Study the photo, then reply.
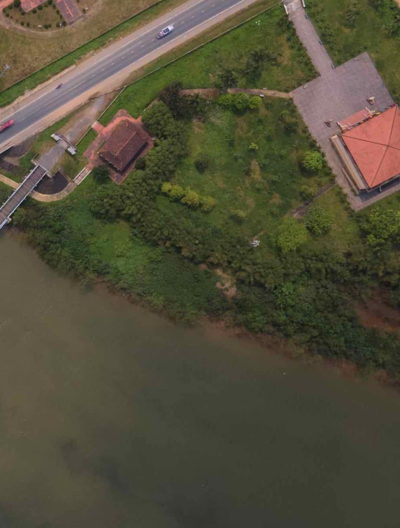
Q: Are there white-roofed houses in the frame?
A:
No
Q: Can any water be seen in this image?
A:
Yes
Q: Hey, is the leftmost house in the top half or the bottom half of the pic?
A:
top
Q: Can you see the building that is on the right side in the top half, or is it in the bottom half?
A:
top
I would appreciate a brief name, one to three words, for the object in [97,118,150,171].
house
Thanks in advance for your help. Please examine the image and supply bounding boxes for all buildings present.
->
[97,118,150,171]
[326,105,400,189]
